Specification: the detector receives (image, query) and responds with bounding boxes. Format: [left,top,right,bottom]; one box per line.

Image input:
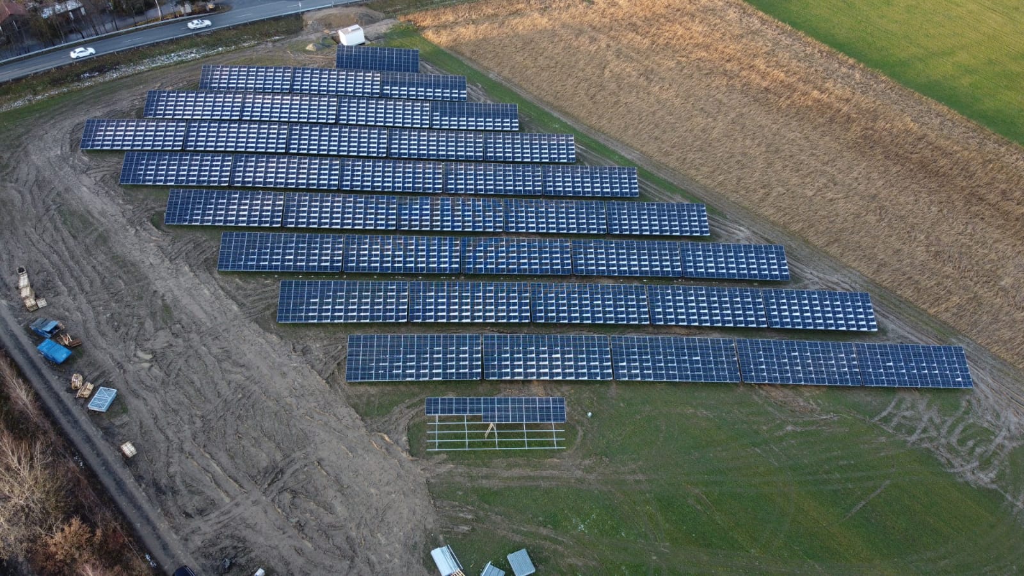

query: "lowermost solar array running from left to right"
[426,398,567,449]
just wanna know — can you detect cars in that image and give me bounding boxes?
[69,48,95,59]
[174,560,200,576]
[188,20,210,30]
